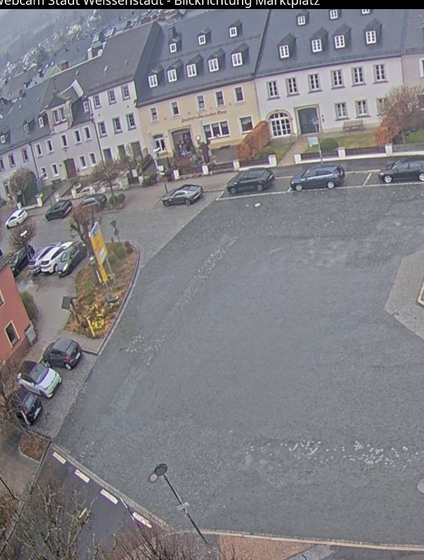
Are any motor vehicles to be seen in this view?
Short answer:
Yes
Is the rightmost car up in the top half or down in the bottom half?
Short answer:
top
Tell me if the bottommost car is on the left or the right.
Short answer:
left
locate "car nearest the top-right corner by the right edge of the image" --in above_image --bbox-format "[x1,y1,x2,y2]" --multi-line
[375,153,424,183]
